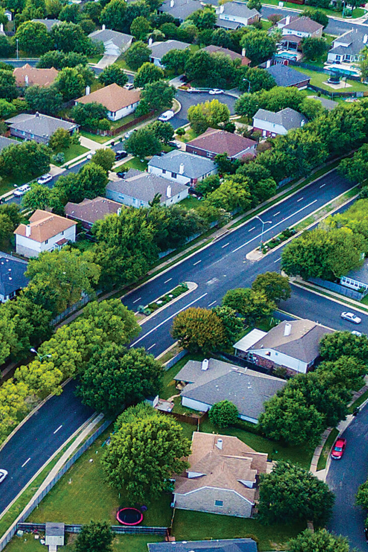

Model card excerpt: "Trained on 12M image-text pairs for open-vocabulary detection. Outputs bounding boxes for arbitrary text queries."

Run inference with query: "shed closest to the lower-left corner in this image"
[42,525,67,552]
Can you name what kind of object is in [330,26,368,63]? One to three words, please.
house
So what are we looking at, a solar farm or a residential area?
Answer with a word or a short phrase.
residential area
